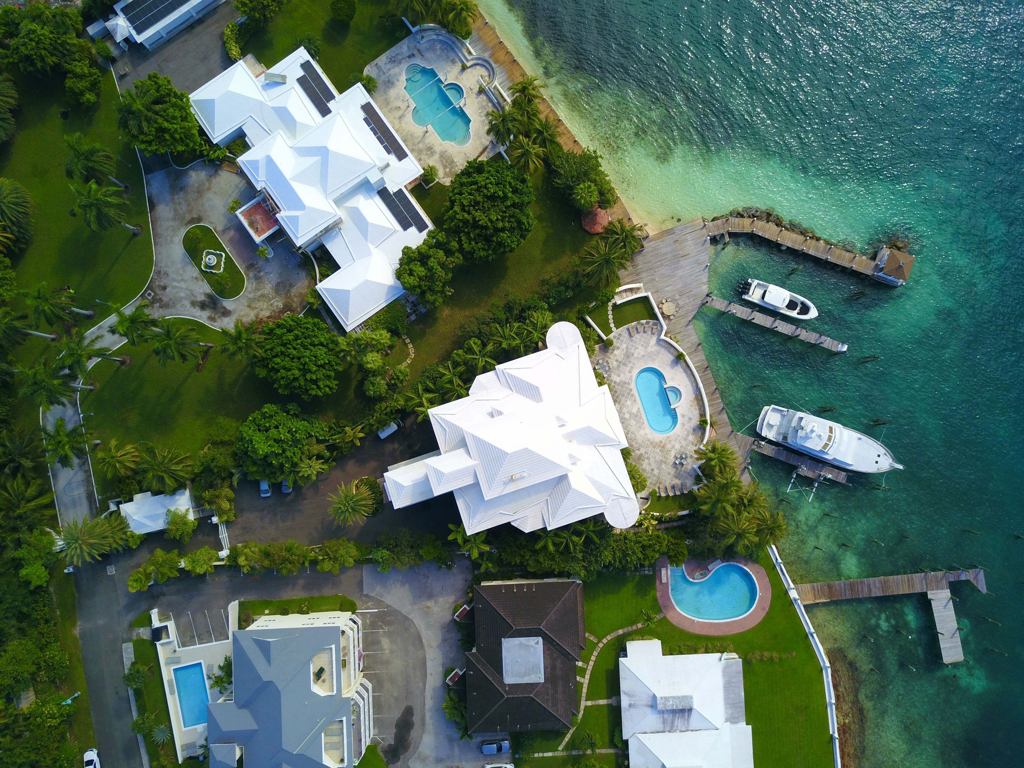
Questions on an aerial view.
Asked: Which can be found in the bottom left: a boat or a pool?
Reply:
pool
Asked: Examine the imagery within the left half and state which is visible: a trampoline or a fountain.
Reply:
fountain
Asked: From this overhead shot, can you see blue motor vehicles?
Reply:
Yes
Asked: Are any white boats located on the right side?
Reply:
Yes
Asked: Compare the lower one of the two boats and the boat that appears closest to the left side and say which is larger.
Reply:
the lower one of the two boats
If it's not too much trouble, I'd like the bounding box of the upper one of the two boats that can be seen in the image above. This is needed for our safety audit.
[738,279,818,319]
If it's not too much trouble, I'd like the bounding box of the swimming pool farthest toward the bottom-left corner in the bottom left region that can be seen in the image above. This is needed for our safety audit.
[171,659,211,731]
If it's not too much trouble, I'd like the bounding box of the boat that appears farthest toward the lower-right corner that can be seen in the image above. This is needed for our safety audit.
[756,402,904,473]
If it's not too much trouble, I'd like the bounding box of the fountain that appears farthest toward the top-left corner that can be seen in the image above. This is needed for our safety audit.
[201,249,226,273]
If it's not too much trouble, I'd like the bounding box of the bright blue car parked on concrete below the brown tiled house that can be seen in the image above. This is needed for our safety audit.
[480,738,511,756]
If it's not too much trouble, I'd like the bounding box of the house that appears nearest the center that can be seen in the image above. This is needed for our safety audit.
[384,320,641,536]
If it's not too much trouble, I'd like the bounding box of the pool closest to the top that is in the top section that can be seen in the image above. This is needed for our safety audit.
[401,61,474,148]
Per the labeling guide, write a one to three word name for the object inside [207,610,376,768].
building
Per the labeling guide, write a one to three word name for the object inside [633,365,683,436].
swimming pool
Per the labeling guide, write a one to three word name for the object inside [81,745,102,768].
car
